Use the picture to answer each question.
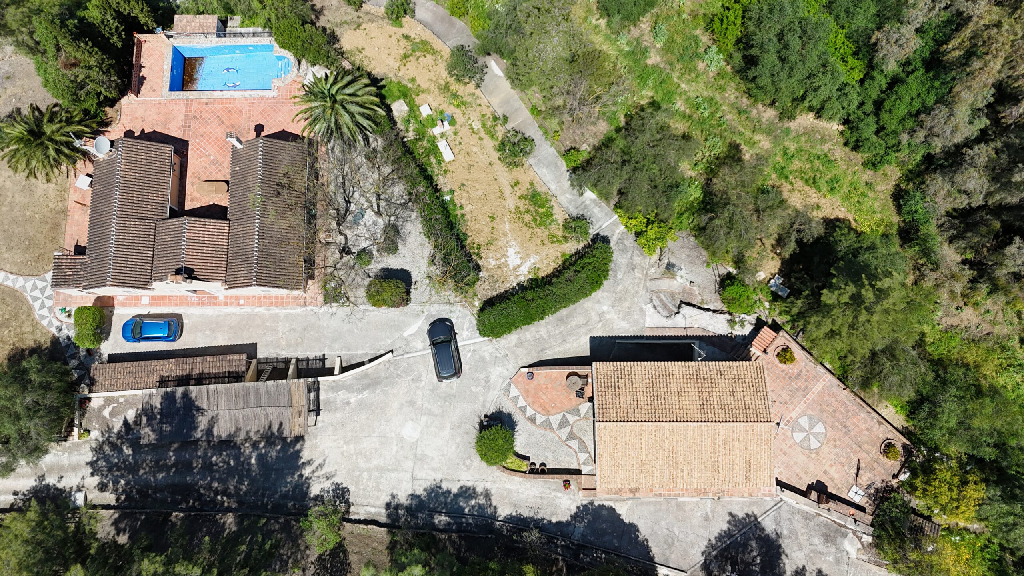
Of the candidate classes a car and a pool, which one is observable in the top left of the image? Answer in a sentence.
There is a pool in the top left of the image.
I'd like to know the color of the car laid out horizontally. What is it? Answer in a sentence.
From above, the car laid out horizontally appears blue.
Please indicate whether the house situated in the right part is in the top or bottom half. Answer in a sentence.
You can find the house situated in the right part in the bottom half.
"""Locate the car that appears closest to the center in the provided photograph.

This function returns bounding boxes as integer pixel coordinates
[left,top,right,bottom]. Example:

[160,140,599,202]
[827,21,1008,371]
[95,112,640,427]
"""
[427,320,461,384]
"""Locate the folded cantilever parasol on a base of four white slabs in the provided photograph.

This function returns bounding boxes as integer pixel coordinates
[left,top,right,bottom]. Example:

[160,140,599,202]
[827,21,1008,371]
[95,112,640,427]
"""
[844,480,876,506]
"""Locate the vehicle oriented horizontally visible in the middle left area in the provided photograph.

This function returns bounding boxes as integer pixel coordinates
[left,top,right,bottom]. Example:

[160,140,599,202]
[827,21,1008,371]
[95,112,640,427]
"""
[120,316,183,346]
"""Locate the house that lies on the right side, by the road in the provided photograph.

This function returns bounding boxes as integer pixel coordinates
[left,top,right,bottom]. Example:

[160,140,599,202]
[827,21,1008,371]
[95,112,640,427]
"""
[582,361,779,501]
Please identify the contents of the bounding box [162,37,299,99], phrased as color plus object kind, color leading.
blue swimming pool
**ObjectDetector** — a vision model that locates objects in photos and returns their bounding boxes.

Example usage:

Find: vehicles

[120,316,183,346]
[427,320,461,384]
